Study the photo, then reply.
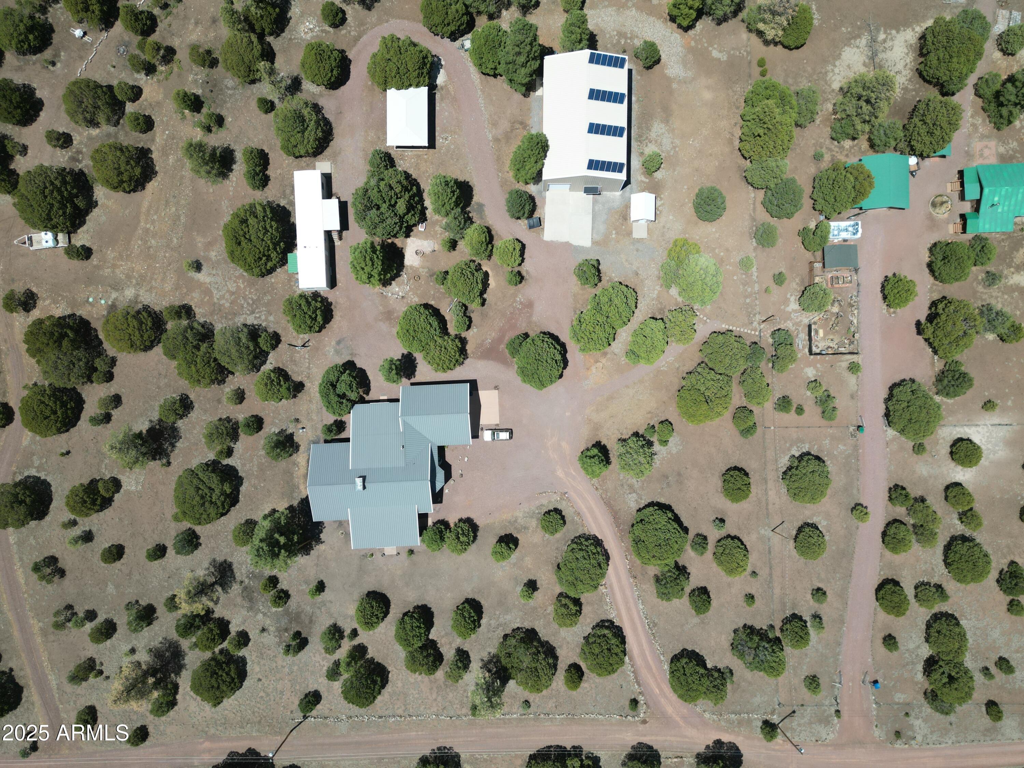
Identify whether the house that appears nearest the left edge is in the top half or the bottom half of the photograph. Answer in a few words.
top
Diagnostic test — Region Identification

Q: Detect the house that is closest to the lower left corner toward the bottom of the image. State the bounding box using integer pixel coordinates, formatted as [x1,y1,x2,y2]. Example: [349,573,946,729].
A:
[307,383,472,550]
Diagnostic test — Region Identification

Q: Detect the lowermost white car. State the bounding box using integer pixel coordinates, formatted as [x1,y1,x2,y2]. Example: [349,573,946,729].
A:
[484,430,511,442]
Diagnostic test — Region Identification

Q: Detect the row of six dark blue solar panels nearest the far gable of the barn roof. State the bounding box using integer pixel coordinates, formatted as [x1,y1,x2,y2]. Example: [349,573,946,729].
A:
[589,52,625,69]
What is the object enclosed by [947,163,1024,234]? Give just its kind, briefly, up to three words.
house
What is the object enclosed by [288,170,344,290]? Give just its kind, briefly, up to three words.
house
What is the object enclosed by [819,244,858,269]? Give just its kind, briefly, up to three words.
shed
